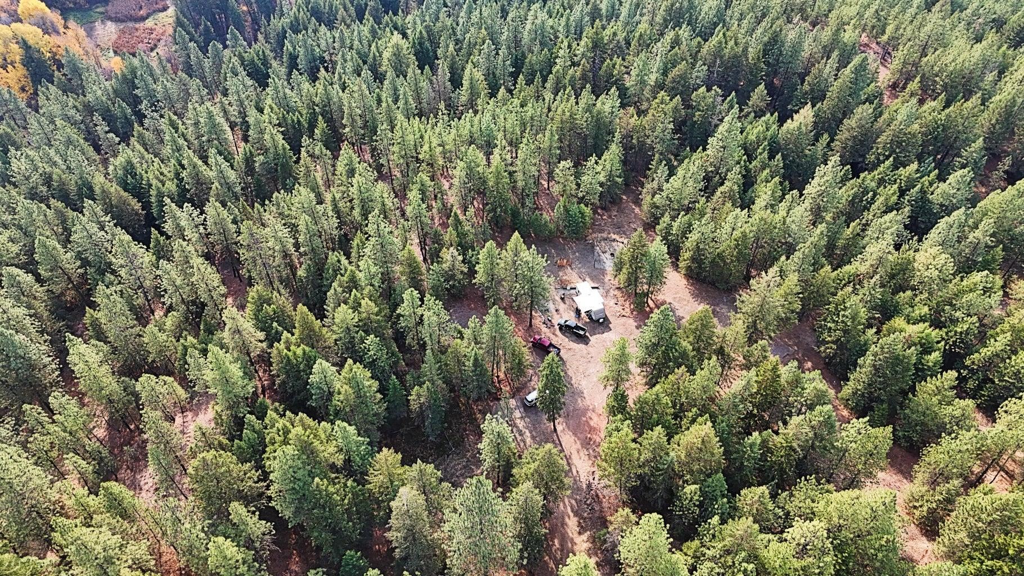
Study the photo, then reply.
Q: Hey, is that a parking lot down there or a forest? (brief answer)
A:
forest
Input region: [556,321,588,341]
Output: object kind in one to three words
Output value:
vehicle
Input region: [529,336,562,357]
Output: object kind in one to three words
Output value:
truck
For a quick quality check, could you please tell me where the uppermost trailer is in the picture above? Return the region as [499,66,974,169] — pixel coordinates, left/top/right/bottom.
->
[571,282,603,323]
